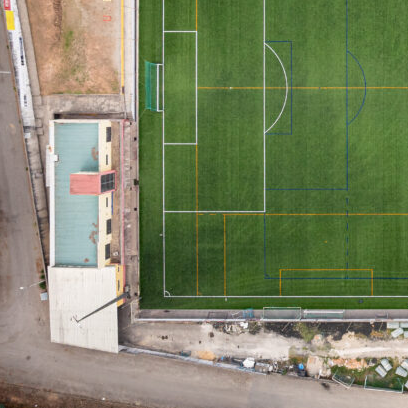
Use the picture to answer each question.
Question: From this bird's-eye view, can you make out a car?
No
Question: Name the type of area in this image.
sports ground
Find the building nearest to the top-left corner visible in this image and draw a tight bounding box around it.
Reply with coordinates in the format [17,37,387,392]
[47,119,127,268]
